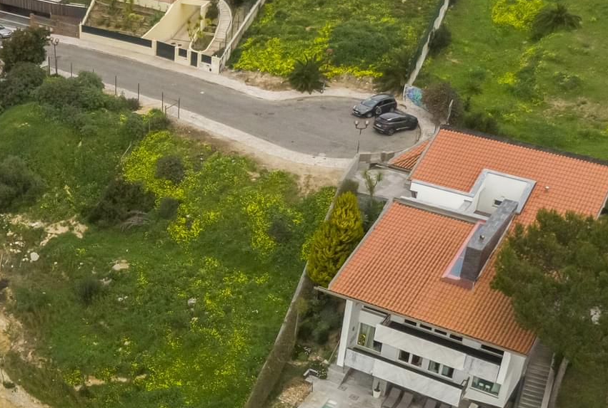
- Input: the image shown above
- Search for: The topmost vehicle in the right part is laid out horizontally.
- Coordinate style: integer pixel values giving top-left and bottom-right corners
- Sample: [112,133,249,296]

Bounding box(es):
[351,93,399,117]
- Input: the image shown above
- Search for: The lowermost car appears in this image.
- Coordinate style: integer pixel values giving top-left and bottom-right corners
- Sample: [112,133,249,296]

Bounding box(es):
[373,110,421,134]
